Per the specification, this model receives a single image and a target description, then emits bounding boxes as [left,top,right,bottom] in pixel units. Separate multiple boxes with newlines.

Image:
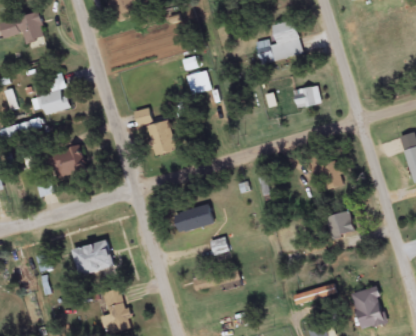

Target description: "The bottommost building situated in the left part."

[102,294,134,333]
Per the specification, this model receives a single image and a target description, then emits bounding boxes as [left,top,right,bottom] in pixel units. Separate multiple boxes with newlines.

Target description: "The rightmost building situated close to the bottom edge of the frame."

[352,286,388,328]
